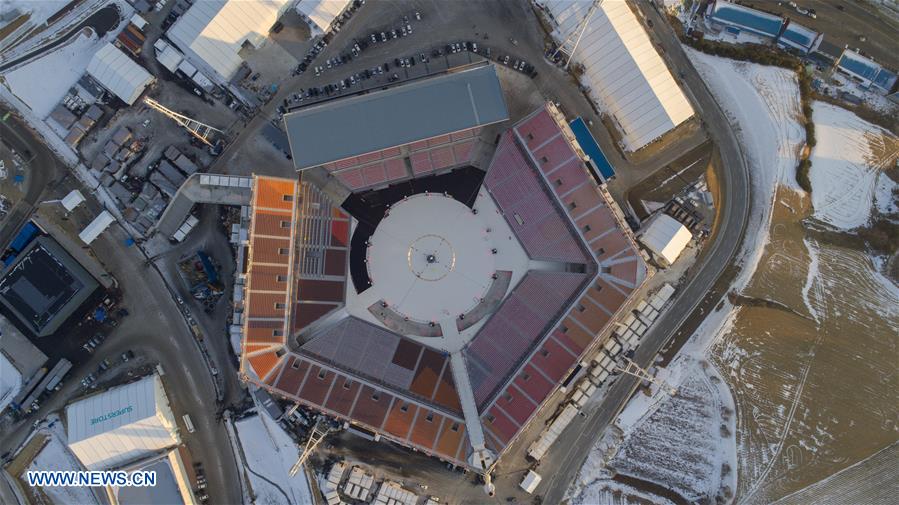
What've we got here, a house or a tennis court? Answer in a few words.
house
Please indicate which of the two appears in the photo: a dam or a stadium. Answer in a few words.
stadium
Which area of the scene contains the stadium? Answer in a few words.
center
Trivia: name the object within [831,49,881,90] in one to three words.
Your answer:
house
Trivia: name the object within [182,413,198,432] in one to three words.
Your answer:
vehicle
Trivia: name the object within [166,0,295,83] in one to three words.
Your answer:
tent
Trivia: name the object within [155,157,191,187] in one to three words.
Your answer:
shed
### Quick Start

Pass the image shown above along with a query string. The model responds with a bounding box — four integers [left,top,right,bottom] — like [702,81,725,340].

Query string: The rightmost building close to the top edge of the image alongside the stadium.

[525,0,695,154]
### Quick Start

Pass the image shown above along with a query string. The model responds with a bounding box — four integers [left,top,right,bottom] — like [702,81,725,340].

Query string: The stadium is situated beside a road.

[239,58,651,476]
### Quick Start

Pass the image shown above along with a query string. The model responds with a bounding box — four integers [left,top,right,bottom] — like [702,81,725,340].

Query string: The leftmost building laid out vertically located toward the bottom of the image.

[0,351,28,418]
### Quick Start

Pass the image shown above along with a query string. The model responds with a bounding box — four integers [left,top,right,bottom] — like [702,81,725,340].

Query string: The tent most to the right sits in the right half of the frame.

[637,213,693,264]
